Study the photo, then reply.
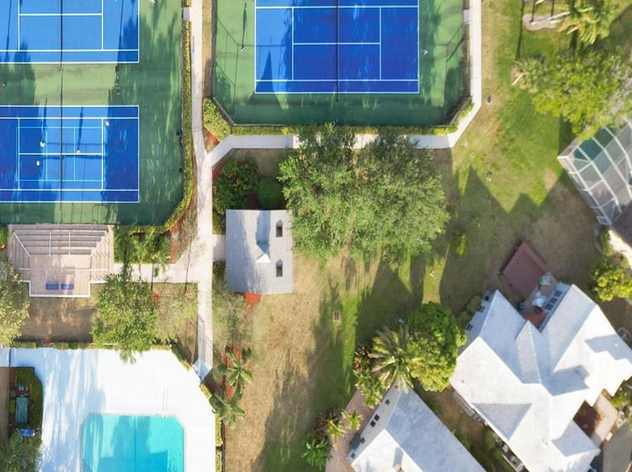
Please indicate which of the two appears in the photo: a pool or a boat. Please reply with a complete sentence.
This aerial view contains a pool.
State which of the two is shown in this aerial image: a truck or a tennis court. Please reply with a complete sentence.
There is a tennis court in the scene.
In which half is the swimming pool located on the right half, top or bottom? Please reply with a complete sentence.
The swimming pool located on the right half sits in the top half of the picture.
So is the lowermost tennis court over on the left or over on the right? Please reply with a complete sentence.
The lowermost tennis court sits on the left side.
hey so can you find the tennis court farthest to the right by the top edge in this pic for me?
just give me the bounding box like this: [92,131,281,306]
[213,0,466,124]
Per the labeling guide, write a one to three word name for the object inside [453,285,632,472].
house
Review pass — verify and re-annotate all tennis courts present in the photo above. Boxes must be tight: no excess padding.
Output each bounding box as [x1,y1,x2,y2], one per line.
[0,0,183,84]
[0,84,183,224]
[213,0,466,124]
